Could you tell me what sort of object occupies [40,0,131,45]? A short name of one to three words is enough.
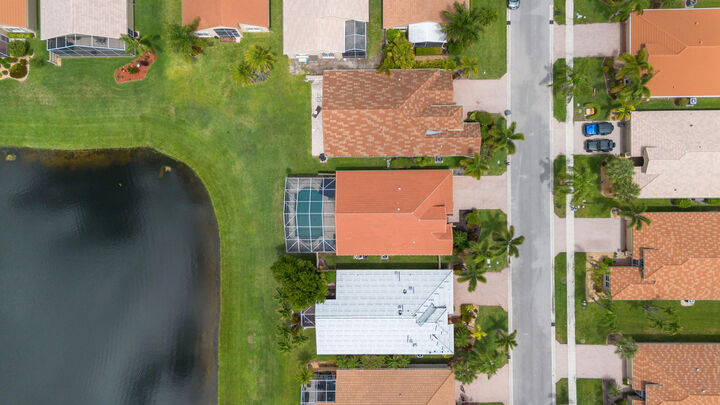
house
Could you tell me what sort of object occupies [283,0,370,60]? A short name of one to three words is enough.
house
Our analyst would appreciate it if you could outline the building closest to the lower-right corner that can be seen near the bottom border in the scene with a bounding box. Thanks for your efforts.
[628,342,720,405]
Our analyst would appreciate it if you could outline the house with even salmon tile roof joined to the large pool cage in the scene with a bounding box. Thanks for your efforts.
[335,169,455,256]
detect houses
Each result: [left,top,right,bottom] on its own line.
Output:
[321,70,483,157]
[628,342,720,405]
[604,212,720,301]
[626,9,720,98]
[0,0,36,32]
[626,110,720,199]
[181,0,270,37]
[316,367,455,405]
[283,0,370,60]
[40,0,131,45]
[335,169,455,256]
[314,269,454,356]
